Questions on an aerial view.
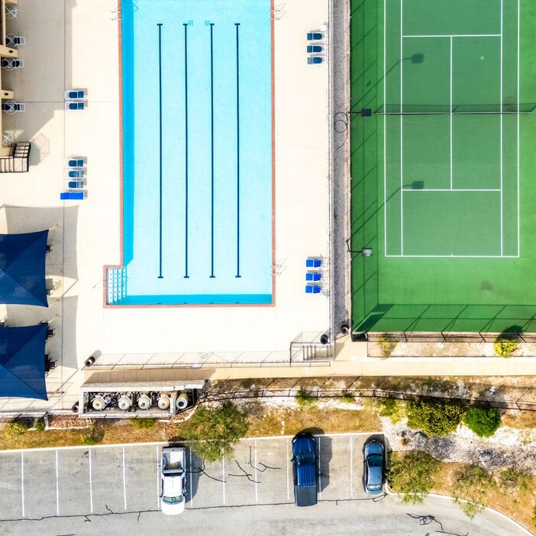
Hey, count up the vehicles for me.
3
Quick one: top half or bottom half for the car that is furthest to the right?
bottom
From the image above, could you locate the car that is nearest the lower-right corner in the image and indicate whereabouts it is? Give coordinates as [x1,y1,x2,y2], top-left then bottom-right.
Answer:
[360,436,388,495]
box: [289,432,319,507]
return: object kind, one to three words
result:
truck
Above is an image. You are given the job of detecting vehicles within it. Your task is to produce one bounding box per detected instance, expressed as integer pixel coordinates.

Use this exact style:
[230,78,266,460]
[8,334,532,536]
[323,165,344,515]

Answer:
[289,432,319,507]
[360,436,388,495]
[156,446,186,518]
